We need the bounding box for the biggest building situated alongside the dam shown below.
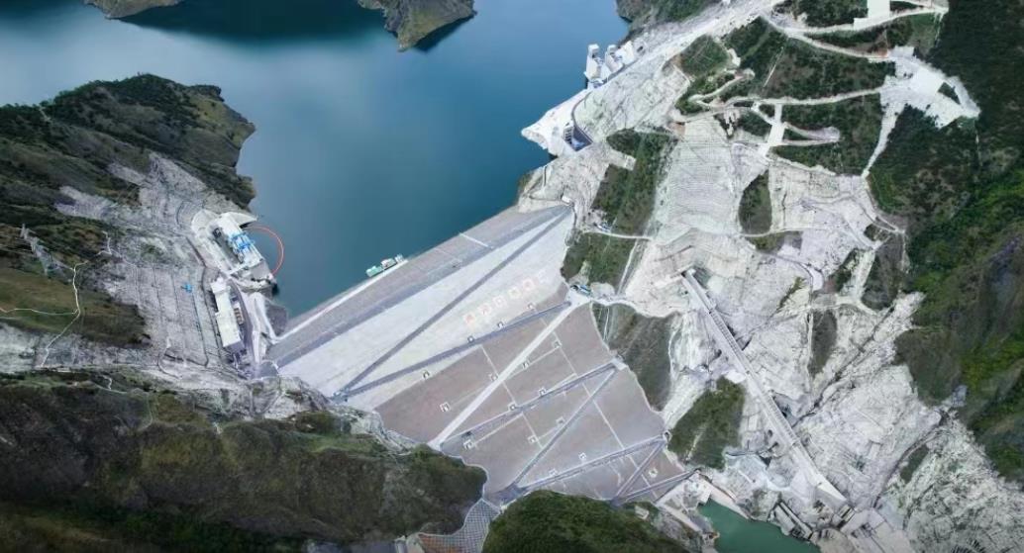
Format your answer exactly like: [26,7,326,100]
[214,283,245,356]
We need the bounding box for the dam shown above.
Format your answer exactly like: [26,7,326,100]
[260,200,695,517]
